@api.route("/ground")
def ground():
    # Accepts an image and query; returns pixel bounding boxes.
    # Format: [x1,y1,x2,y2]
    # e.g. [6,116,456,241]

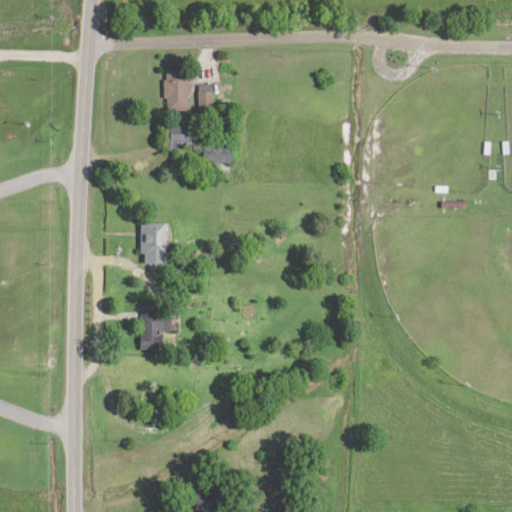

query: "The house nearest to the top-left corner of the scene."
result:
[164,73,192,111]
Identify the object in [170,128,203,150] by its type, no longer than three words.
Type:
house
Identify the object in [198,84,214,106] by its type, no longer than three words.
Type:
building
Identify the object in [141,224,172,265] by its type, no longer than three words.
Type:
house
